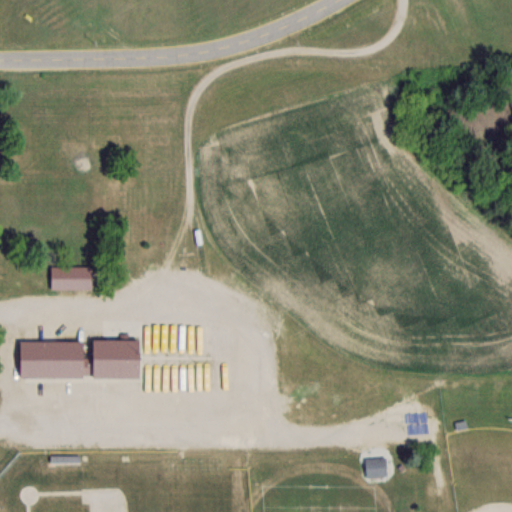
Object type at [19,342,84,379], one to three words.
building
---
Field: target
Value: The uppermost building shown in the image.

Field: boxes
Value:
[51,267,92,292]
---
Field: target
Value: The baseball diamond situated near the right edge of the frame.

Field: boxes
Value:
[446,428,512,512]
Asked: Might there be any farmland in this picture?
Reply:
Yes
